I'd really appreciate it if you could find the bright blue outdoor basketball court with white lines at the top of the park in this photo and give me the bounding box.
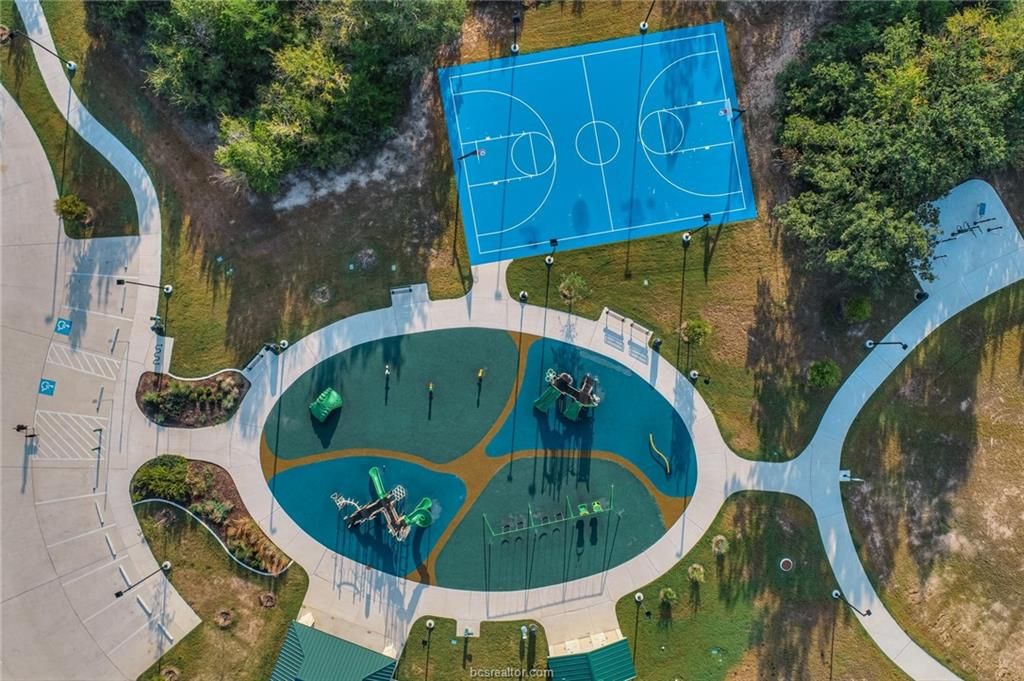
[439,22,756,263]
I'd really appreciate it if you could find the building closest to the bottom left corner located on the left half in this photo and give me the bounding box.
[269,612,397,681]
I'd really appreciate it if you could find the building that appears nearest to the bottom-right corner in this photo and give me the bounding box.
[546,628,635,681]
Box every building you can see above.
[269,612,397,681]
[546,628,635,681]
